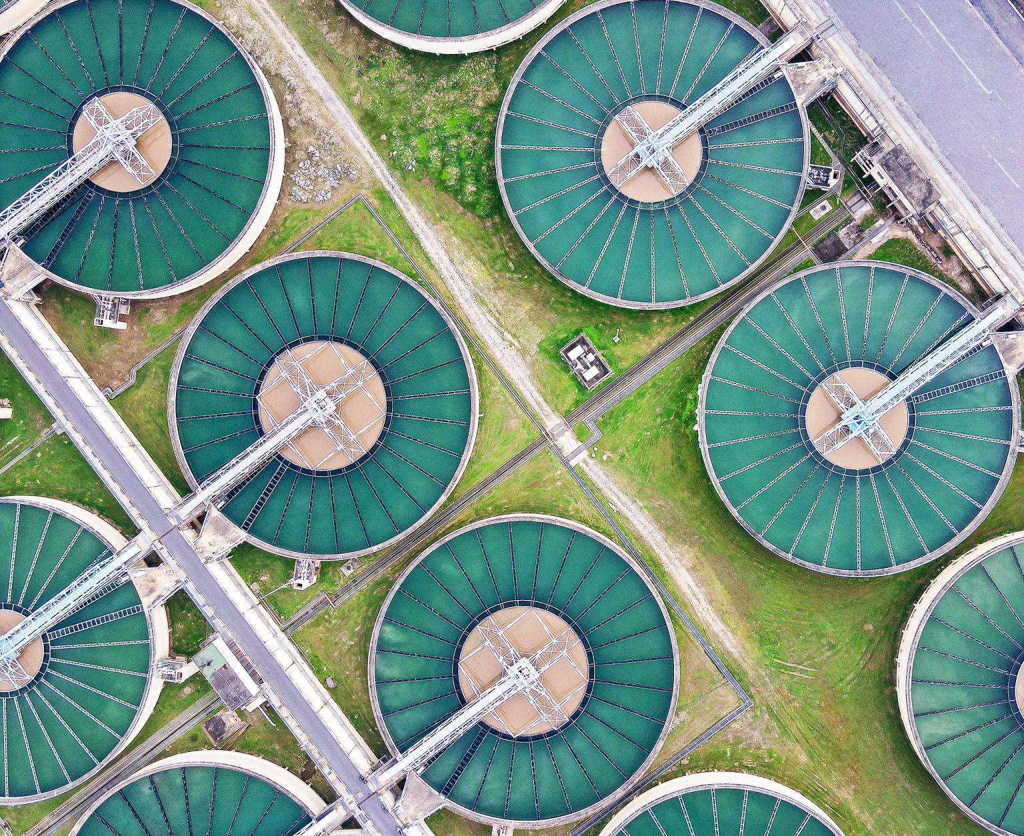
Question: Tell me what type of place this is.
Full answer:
What you see here is an industrial area.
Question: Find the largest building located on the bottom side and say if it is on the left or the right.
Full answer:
The largest building located on the bottom side appears in the left half of the scene.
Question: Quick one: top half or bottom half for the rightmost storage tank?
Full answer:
You can find the rightmost storage tank in the bottom half.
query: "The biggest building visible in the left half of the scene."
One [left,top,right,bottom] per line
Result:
[191,634,263,712]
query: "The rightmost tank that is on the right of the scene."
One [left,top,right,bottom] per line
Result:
[894,534,1024,836]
